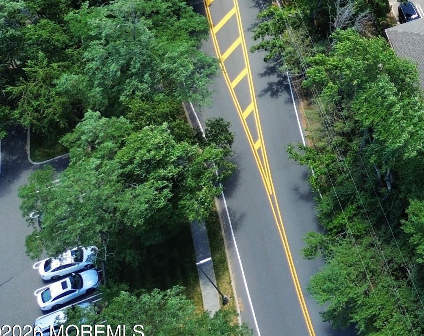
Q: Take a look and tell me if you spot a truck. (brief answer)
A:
No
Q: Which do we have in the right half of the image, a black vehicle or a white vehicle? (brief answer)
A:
black vehicle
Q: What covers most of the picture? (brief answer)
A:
trees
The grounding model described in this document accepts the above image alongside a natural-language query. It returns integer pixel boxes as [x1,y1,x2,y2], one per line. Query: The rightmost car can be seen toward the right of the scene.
[399,5,419,23]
